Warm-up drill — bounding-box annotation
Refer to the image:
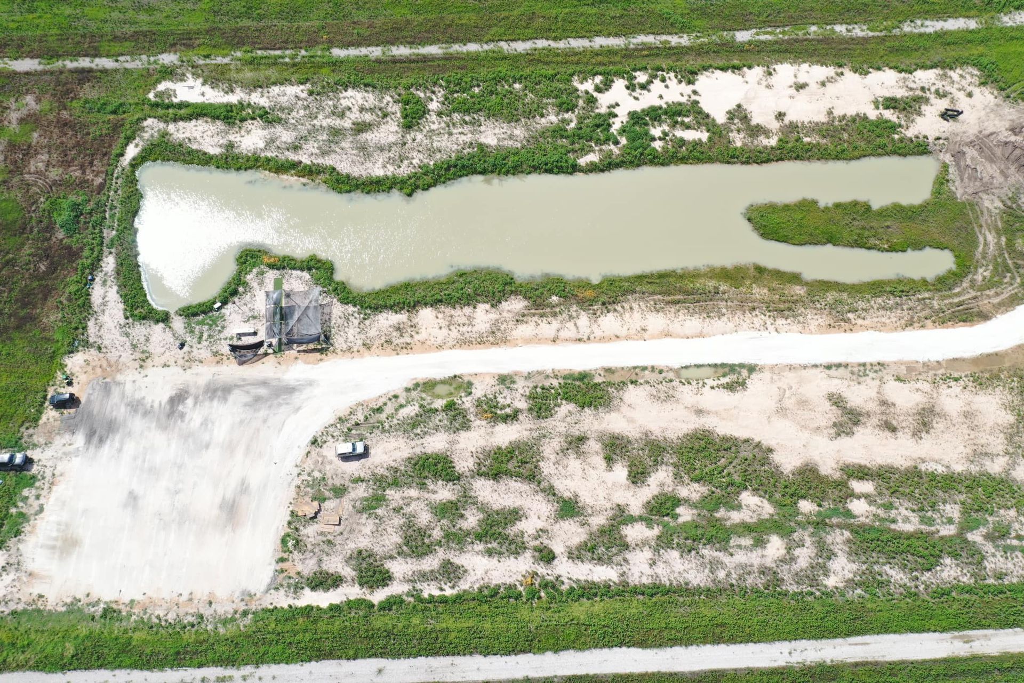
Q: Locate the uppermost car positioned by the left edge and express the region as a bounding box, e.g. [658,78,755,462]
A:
[48,396,79,412]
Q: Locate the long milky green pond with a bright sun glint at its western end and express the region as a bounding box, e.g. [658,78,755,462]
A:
[133,154,956,313]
